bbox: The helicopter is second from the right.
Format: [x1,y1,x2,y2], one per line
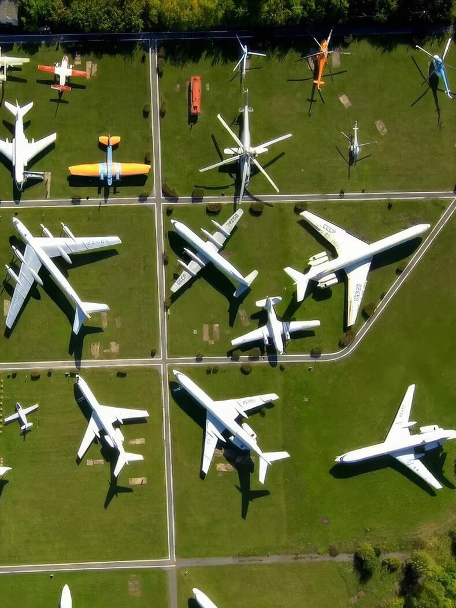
[342,125,376,167]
